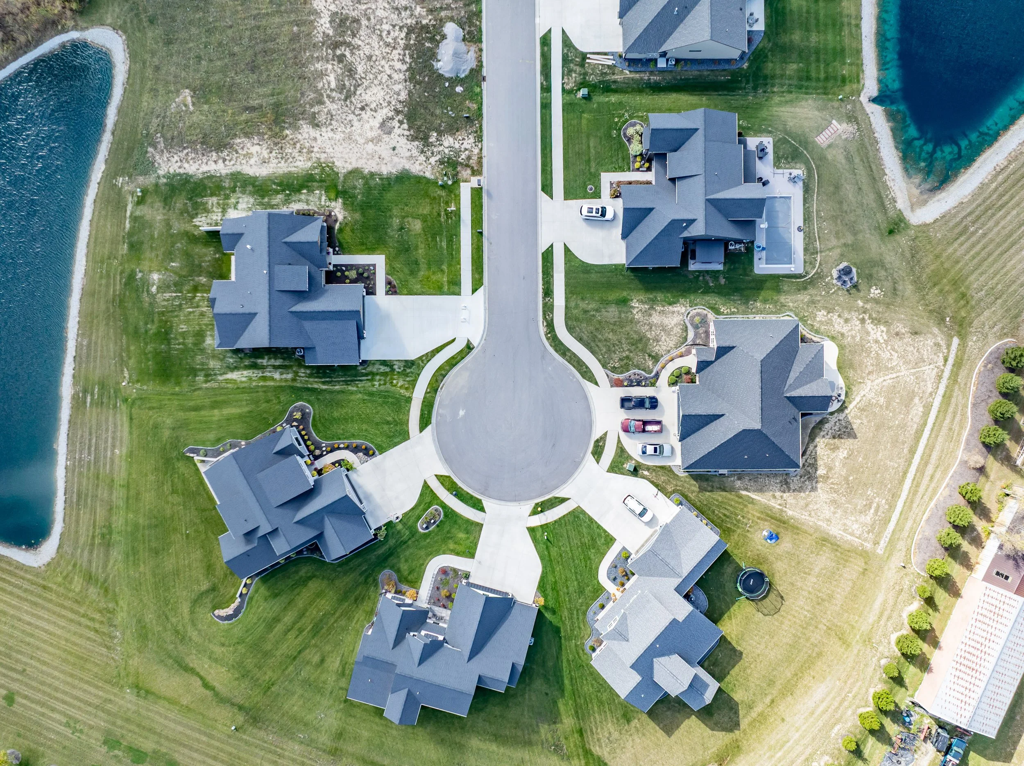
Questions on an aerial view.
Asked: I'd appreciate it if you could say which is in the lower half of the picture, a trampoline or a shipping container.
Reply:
trampoline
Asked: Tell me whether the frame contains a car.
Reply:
Yes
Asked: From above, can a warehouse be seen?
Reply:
No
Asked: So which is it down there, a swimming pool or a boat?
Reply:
swimming pool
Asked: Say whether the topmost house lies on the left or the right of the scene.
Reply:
right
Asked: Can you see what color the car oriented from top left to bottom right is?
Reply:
white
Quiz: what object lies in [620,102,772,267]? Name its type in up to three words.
house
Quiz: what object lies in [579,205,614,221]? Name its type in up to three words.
car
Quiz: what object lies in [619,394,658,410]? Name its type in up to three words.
vehicle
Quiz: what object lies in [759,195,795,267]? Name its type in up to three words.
swimming pool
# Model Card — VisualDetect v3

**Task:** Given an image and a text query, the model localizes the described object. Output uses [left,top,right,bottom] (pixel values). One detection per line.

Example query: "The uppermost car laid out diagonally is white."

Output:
[623,491,652,525]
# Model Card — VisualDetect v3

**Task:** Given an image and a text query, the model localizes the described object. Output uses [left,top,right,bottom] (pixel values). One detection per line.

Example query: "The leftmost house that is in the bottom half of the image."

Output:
[203,426,379,581]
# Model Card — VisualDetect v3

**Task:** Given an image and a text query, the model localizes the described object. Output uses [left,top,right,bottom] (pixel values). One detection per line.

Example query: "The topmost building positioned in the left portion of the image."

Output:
[207,210,370,365]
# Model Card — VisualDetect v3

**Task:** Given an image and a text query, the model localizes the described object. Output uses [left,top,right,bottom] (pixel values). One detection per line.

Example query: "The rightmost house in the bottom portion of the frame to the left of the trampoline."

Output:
[591,502,728,713]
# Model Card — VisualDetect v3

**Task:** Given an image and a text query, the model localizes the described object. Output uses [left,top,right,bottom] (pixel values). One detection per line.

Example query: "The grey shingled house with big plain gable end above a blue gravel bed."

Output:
[618,0,748,60]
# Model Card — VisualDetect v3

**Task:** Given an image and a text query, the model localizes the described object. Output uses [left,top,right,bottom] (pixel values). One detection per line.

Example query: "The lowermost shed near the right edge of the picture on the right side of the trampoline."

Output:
[915,579,1024,739]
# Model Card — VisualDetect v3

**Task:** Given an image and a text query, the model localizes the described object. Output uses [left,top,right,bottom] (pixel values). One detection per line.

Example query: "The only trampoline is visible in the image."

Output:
[731,564,774,603]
